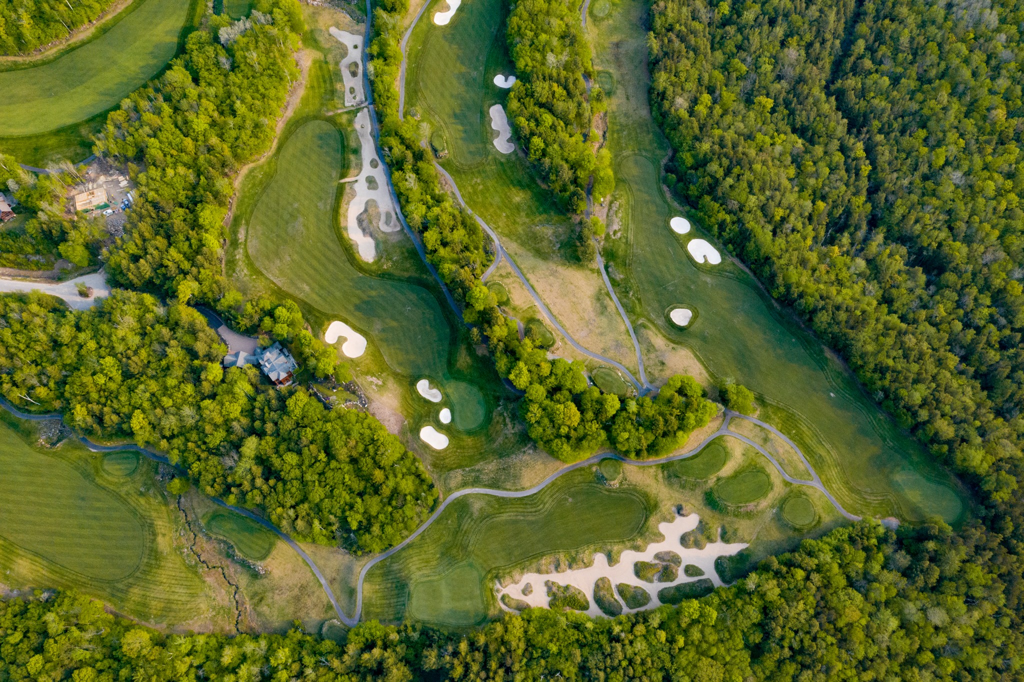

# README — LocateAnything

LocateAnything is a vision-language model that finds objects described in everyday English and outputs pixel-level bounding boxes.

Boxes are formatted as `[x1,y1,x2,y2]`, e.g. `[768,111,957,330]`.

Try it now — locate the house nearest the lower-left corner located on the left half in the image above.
[222,341,300,388]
